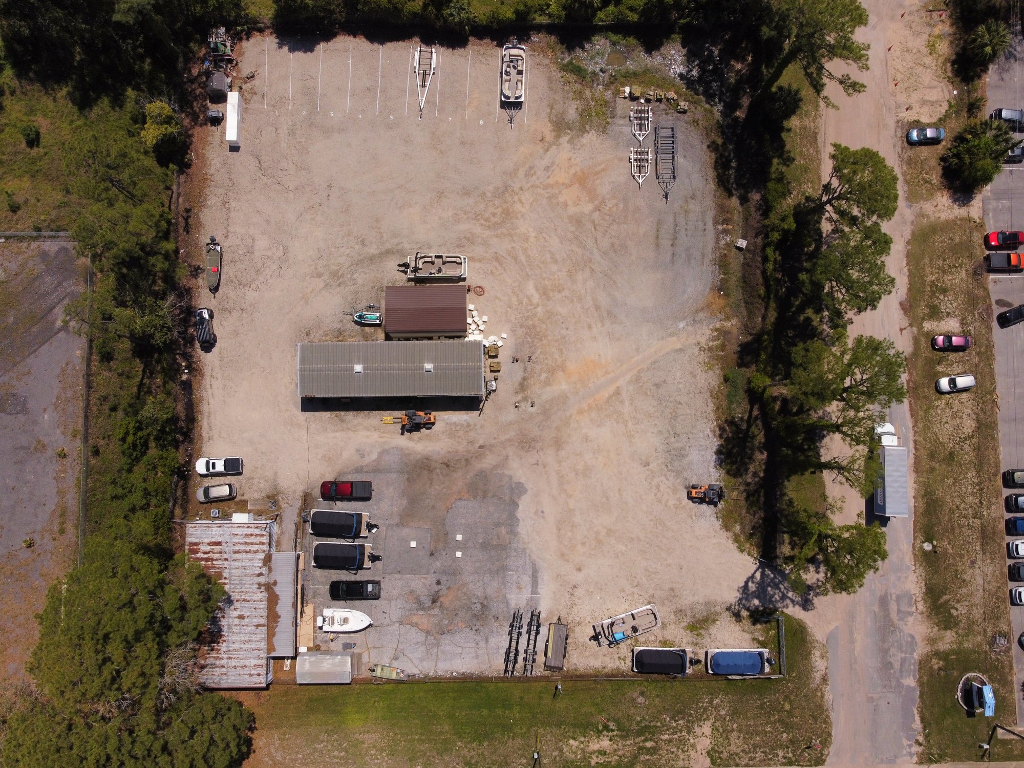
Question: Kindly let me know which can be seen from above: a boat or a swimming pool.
boat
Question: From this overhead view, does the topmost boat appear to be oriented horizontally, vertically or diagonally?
vertically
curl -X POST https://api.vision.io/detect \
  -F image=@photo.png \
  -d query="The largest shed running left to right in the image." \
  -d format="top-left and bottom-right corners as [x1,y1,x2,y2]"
[296,341,484,399]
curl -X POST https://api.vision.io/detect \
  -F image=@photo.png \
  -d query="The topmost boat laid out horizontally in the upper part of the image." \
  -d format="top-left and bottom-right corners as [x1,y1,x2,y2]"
[397,255,467,278]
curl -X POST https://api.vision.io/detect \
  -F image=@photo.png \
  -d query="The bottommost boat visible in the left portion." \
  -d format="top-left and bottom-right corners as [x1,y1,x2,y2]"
[368,661,410,681]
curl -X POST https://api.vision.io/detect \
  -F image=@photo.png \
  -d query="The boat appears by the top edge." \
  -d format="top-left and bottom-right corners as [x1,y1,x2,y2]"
[502,38,525,105]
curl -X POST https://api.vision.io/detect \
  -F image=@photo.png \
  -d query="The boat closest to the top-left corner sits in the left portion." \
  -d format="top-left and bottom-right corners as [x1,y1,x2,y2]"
[207,235,222,291]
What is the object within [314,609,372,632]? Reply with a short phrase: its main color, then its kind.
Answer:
white boat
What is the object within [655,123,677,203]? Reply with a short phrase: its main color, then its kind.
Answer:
gray trailer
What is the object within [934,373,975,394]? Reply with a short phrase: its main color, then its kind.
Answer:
white car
